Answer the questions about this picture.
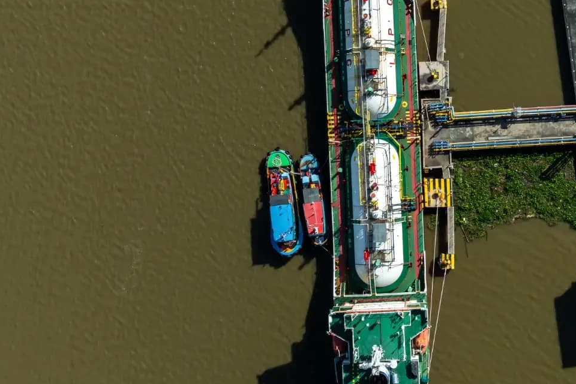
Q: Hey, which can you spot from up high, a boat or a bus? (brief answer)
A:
boat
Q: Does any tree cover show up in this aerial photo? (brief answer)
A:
No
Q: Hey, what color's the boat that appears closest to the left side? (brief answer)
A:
blue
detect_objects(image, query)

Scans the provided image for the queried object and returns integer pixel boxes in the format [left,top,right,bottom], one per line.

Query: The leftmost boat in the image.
[264,148,304,258]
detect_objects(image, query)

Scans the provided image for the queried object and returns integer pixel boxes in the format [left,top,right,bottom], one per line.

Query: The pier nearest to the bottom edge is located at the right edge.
[422,97,576,169]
